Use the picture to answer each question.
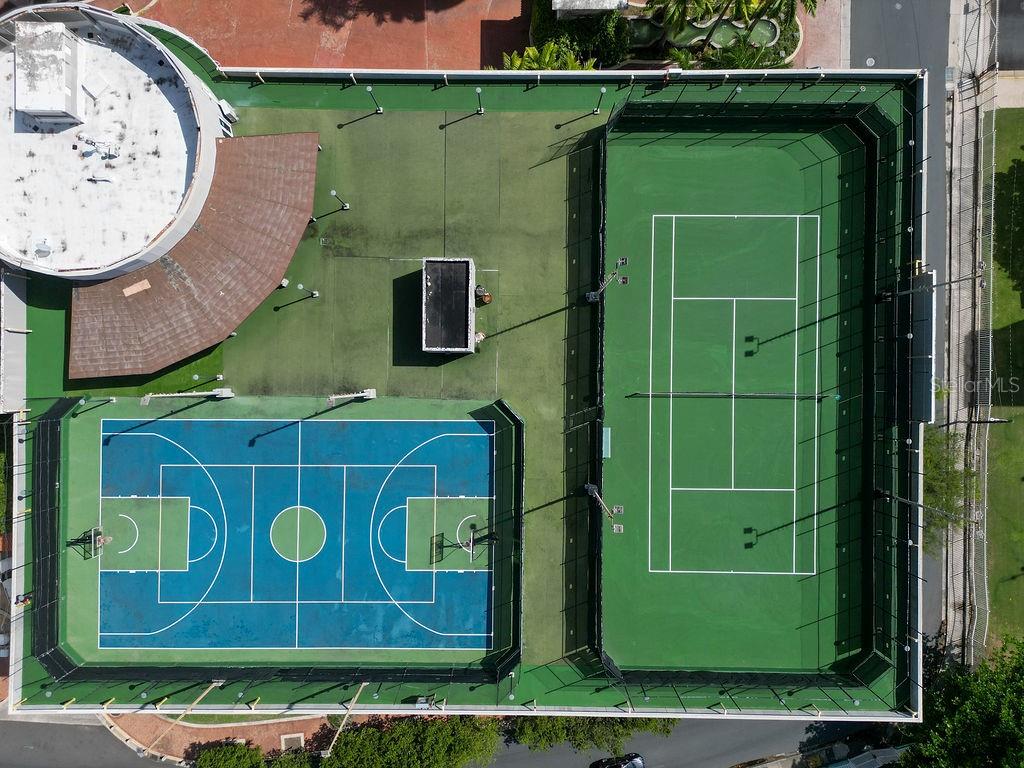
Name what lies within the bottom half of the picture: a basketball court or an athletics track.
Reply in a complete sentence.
It is a basketball court that can be seen within the bottom half of the picture.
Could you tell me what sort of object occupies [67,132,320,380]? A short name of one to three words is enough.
building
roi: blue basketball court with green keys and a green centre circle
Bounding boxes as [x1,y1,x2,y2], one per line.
[57,397,522,667]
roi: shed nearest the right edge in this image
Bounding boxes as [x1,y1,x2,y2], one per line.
[806,728,904,768]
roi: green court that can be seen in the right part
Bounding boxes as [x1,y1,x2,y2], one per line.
[599,119,873,669]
